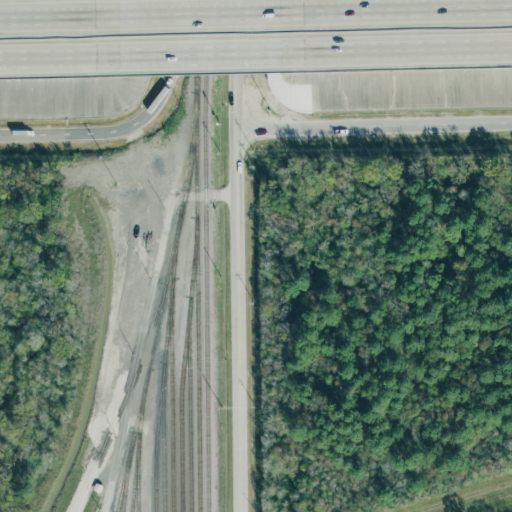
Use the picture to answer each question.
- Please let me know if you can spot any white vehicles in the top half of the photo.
Yes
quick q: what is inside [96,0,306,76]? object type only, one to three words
overpass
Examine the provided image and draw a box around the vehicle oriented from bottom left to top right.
[146,78,176,114]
